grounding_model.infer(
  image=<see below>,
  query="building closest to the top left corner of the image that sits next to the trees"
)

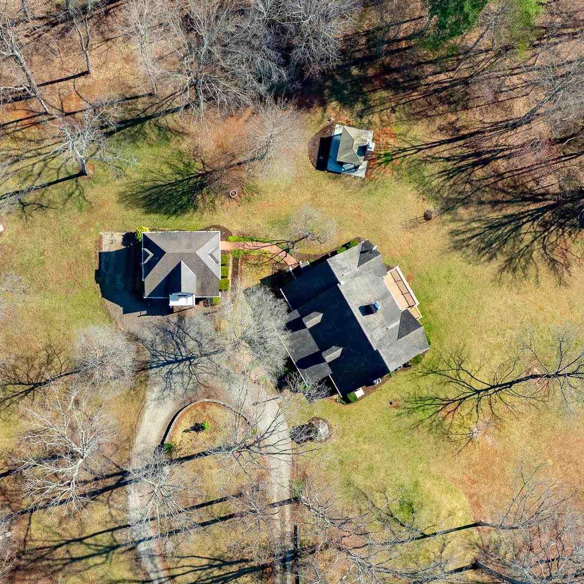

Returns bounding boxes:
[142,231,221,308]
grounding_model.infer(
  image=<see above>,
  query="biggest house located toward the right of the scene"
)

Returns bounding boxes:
[272,238,430,397]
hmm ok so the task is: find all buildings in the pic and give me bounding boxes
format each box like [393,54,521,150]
[272,238,430,397]
[327,124,375,177]
[142,231,221,308]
